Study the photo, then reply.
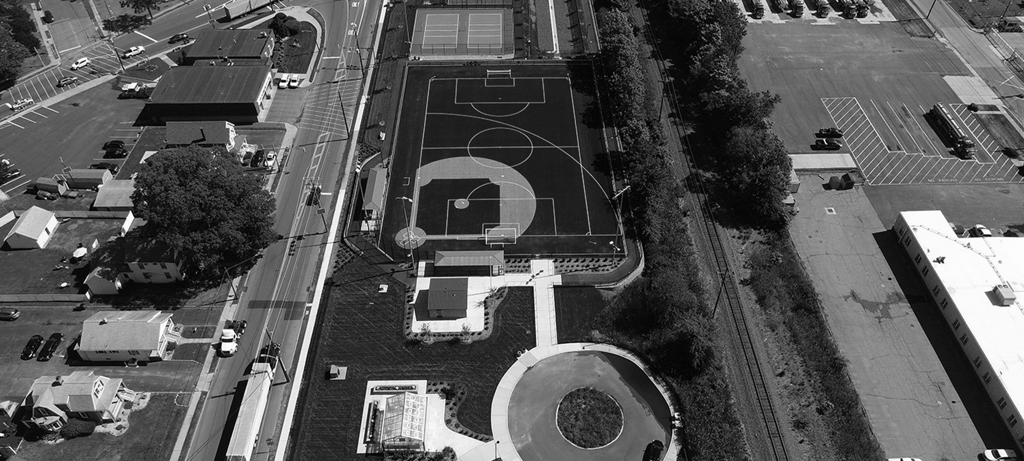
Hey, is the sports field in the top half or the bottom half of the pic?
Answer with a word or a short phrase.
top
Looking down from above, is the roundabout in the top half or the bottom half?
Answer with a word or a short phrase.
bottom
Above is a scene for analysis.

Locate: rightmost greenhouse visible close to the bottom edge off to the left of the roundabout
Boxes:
[381,391,427,450]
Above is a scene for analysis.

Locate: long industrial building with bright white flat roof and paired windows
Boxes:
[890,210,1024,457]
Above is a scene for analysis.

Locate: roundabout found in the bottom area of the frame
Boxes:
[506,350,674,461]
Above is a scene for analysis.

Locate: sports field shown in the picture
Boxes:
[380,60,632,261]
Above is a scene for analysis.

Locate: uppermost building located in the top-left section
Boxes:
[144,29,280,123]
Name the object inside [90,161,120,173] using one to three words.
vehicle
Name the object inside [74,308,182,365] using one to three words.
house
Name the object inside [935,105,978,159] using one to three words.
truck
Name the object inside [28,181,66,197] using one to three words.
shed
